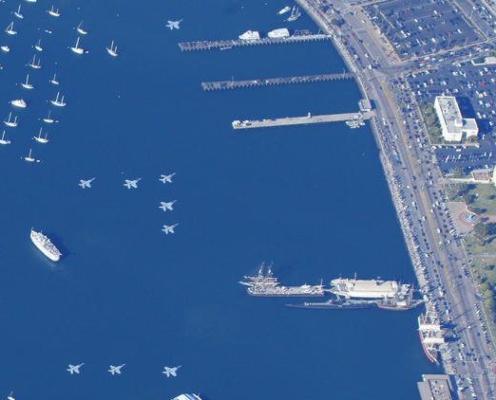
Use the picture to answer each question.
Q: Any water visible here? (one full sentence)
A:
Yes, there is water in the image.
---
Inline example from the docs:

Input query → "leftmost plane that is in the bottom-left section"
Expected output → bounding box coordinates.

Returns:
[64,364,86,377]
